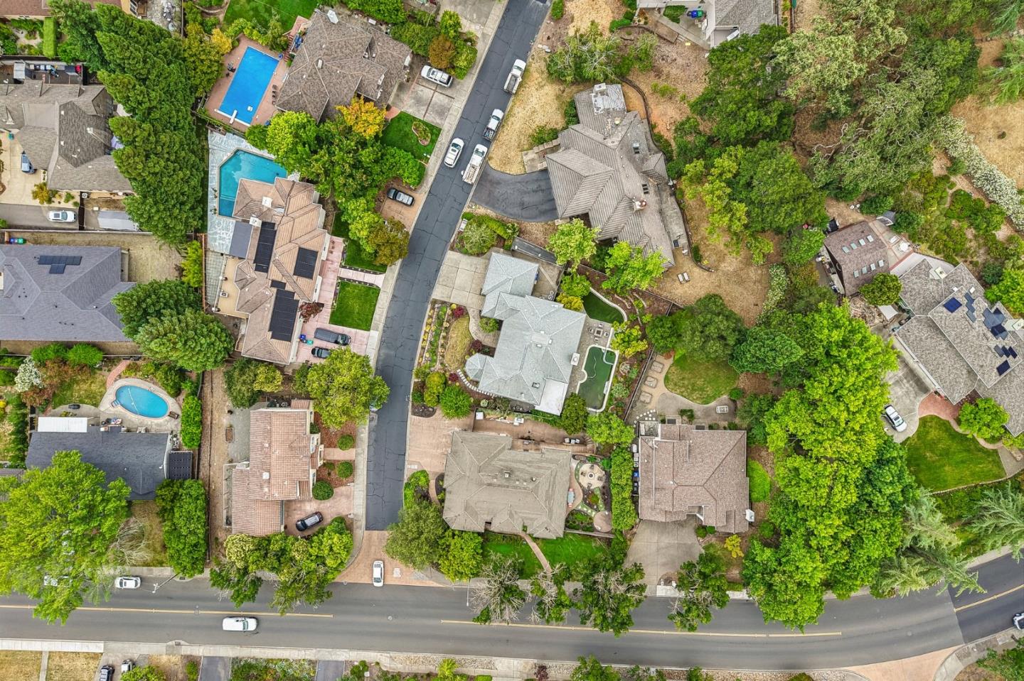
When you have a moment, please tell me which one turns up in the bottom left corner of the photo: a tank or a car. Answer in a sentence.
You can see a car in the bottom left corner of the photo.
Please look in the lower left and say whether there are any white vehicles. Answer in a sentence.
Yes, looking in the lower left, one can make out a white vehicle.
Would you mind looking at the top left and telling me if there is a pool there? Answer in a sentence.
Yes, a pool is visible at the top left.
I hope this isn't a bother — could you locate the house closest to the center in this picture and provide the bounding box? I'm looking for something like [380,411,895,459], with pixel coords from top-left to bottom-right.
[463,251,589,414]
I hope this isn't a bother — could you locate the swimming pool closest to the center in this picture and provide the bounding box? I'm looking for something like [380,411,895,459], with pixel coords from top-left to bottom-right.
[575,342,620,412]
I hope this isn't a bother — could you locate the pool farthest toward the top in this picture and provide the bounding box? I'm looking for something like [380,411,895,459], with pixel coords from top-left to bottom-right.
[213,41,278,127]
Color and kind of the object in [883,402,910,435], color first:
white car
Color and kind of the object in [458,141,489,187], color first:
white truck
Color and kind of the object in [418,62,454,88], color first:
white car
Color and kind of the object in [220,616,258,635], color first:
white vehicle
